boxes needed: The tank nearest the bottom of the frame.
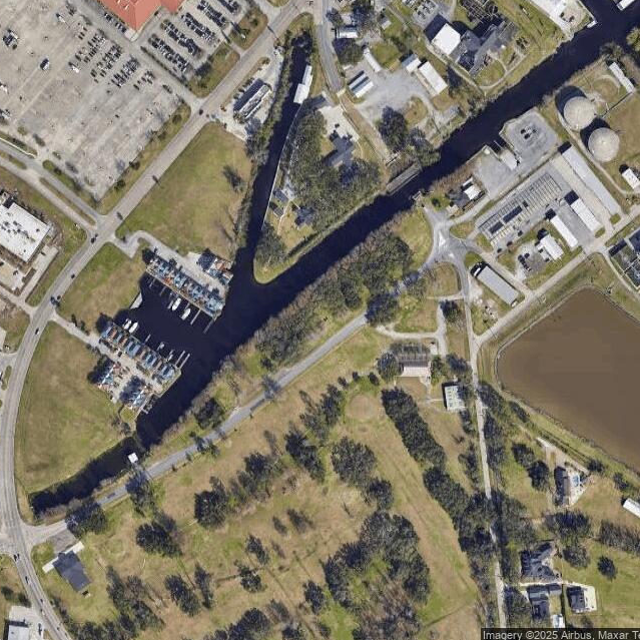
[588,129,620,161]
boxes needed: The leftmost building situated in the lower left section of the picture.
[7,622,30,640]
